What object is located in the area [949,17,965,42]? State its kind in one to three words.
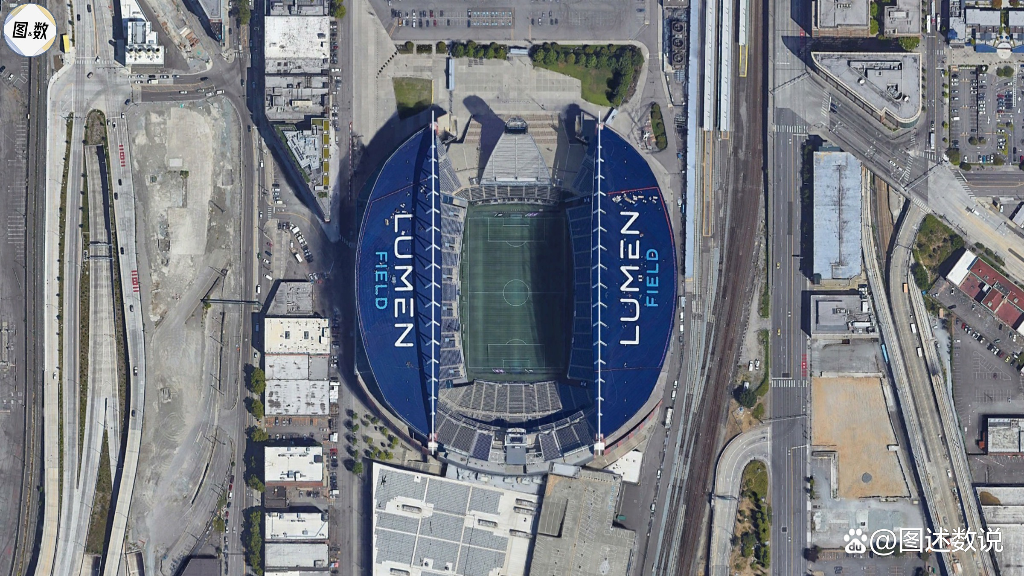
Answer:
building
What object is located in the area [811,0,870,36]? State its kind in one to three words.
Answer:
building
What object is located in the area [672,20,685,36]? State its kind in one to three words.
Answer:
cooling tower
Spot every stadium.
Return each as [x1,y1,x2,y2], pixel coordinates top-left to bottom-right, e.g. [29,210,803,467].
[355,111,678,479]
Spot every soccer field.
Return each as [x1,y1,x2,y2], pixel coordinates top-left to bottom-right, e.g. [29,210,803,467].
[459,204,575,384]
